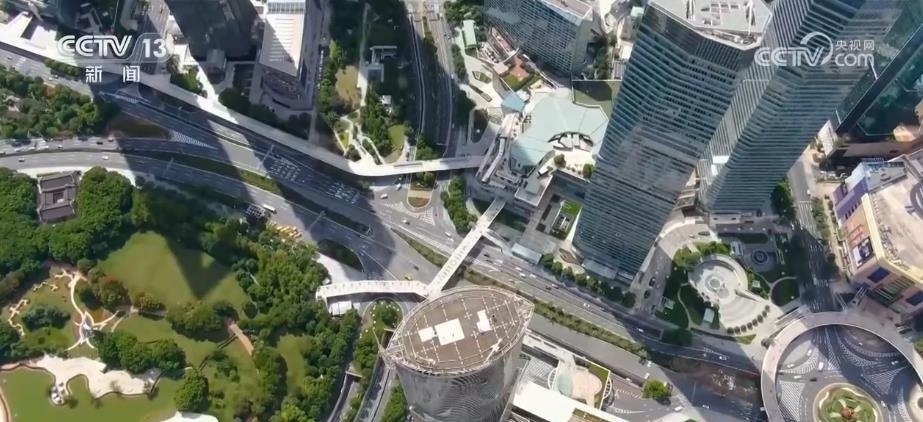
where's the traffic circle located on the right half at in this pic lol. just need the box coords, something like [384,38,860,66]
[750,313,923,422]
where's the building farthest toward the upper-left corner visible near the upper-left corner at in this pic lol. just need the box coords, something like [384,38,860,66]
[33,0,71,31]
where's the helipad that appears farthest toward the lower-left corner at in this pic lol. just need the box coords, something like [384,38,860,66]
[419,325,437,342]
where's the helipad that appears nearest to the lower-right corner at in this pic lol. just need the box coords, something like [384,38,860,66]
[477,309,492,331]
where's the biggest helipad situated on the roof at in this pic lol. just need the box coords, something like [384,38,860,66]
[440,318,463,344]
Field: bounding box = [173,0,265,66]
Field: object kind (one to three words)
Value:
building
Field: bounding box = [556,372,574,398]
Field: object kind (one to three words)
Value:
swimming pool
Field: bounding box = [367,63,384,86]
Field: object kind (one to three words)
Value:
building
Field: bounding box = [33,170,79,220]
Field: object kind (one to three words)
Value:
house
